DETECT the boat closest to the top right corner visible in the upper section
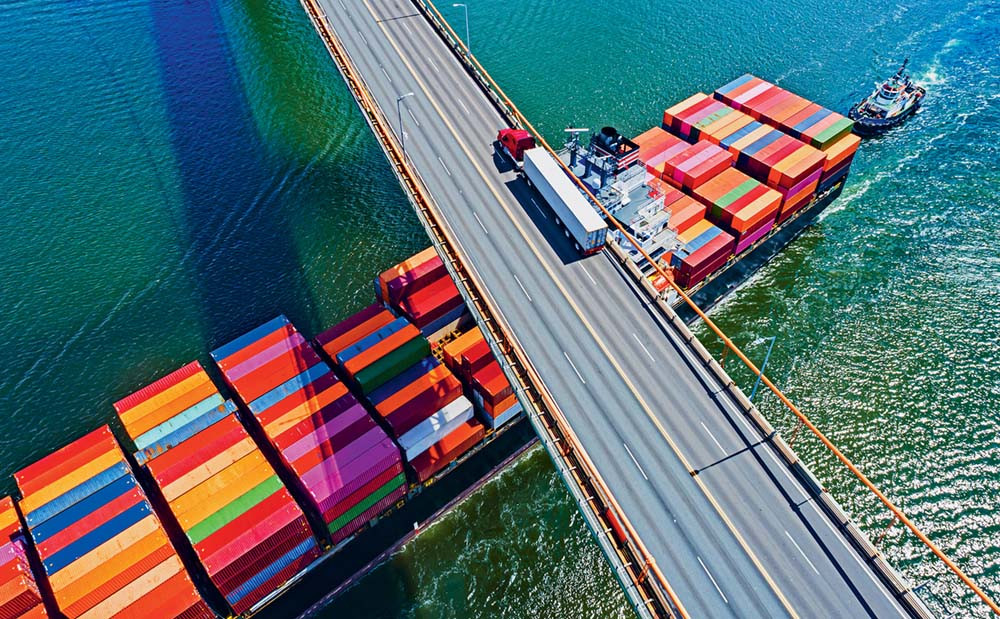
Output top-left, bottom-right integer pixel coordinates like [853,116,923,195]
[843,53,934,131]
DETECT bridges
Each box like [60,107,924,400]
[296,0,1000,619]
